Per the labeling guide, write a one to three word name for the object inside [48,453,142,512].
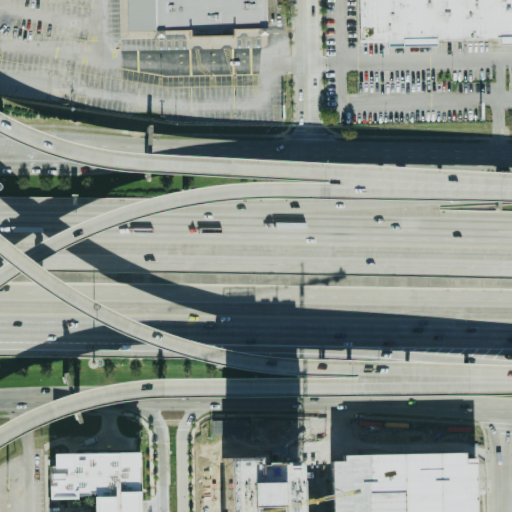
building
